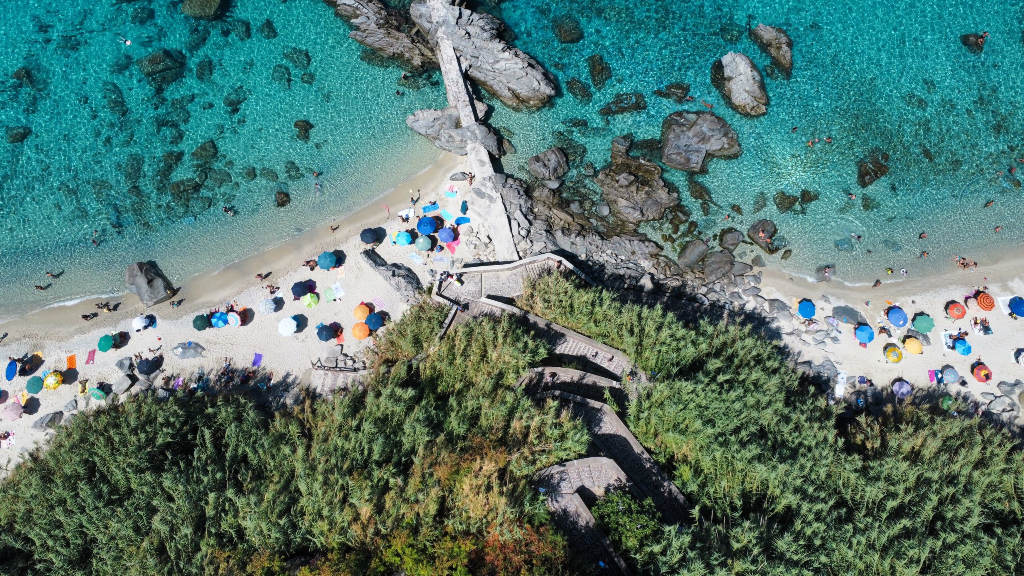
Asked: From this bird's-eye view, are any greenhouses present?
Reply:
No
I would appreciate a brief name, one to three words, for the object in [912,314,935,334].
umbrella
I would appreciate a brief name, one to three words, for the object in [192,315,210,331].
umbrella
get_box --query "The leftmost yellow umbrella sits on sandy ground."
[45,372,64,390]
